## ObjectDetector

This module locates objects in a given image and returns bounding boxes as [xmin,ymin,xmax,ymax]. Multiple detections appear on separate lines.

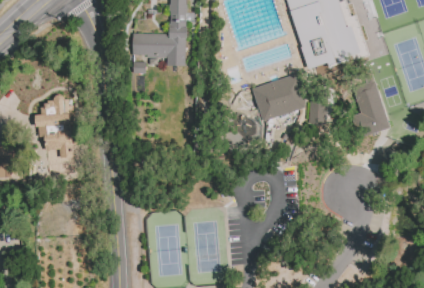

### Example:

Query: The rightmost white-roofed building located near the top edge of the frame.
[286,0,361,72]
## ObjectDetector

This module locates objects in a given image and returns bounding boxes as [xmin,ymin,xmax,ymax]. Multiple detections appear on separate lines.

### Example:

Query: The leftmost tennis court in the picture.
[148,210,188,288]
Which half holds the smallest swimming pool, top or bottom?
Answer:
top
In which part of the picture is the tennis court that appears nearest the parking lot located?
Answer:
bottom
